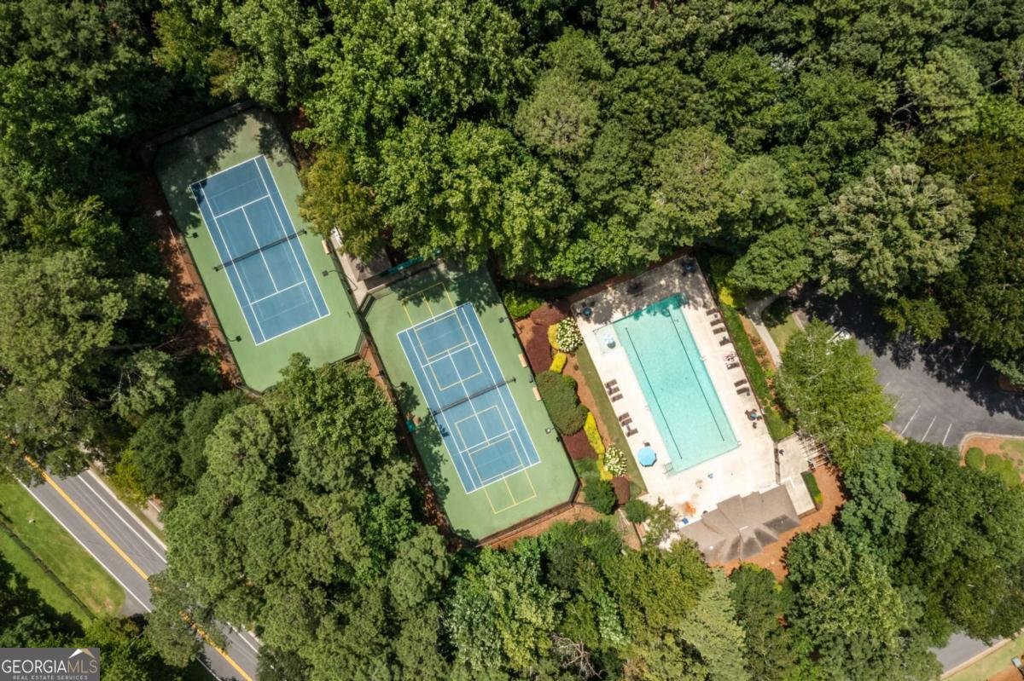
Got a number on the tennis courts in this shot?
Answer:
two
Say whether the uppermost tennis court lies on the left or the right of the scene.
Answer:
left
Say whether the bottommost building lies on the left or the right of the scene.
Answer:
right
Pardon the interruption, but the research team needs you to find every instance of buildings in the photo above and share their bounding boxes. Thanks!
[344,238,393,283]
[679,483,800,567]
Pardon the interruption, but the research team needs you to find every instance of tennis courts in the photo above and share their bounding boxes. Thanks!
[153,108,358,390]
[364,258,578,542]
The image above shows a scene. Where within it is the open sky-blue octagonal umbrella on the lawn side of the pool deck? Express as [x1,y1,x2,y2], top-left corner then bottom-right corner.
[637,446,656,465]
